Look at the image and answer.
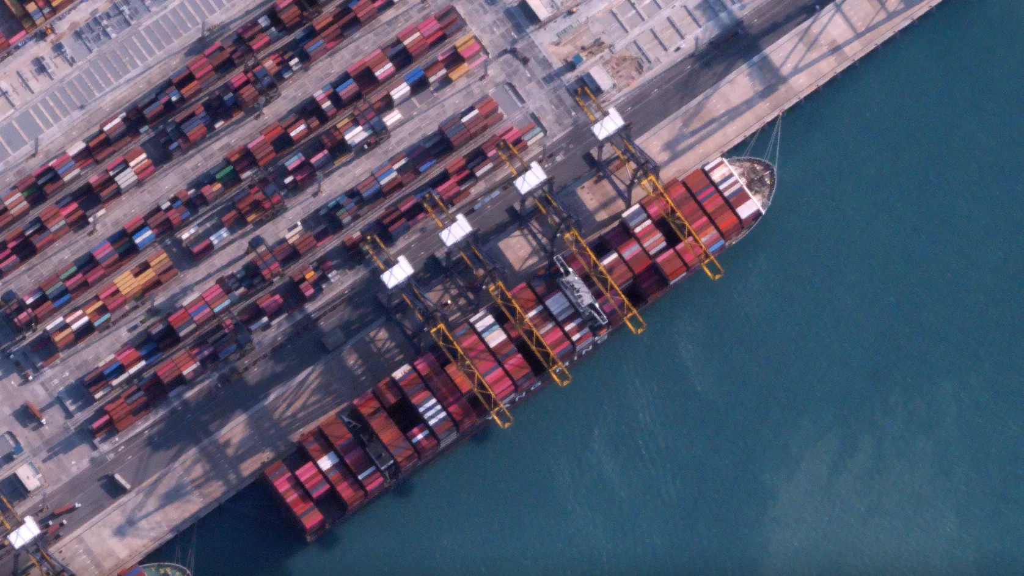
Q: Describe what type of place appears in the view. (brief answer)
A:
port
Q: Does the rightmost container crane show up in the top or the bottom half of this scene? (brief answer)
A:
top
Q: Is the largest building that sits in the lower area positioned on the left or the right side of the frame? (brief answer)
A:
left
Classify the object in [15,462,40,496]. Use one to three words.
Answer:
building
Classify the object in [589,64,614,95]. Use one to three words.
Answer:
building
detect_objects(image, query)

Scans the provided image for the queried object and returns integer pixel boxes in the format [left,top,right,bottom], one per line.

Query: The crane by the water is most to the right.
[576,85,722,280]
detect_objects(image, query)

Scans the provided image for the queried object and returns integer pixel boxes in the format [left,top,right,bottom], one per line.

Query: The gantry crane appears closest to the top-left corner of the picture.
[239,49,279,104]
